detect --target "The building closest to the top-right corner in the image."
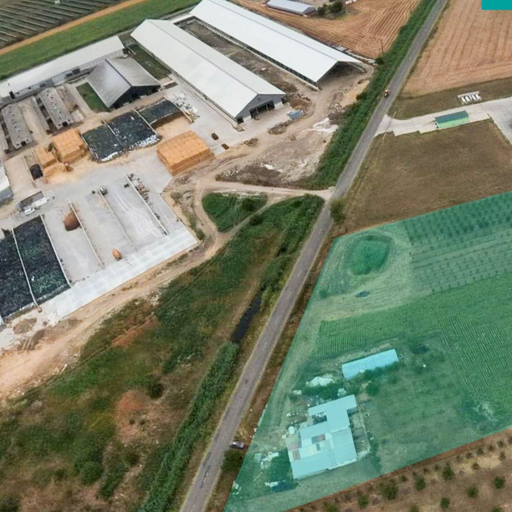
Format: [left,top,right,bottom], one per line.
[432,112,468,129]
